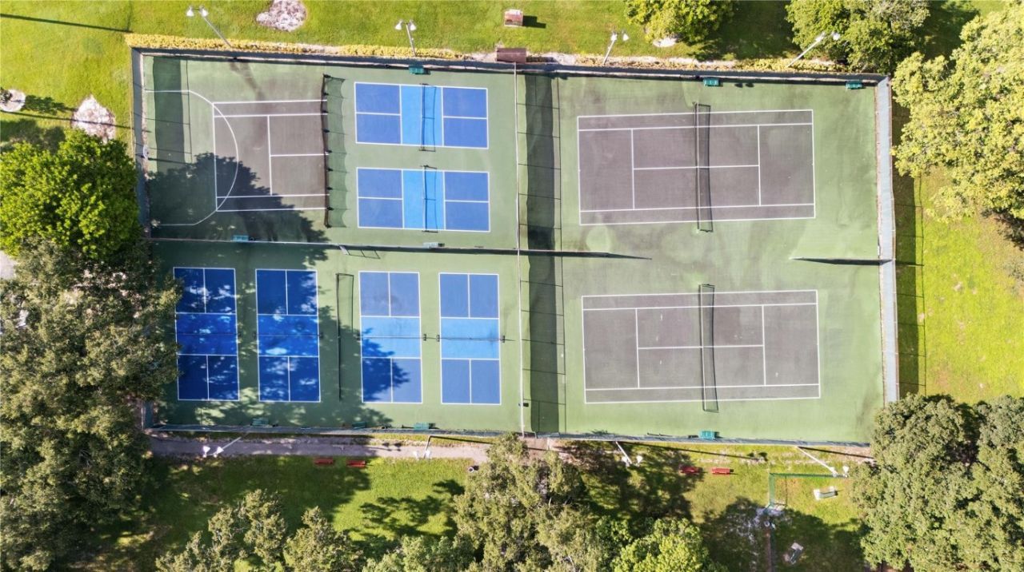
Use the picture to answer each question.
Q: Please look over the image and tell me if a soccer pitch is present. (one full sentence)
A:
No, the scene contains no soccer pitch.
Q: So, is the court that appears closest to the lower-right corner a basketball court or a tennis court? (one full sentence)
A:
I'd identify the court that appears closest to the lower-right corner as a tennis court.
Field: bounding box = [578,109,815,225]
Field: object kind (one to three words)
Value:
tennis court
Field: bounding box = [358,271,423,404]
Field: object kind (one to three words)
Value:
sports court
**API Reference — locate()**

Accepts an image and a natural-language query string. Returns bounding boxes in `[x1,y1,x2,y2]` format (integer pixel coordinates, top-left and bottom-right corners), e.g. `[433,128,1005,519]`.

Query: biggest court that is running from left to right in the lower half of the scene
[582,290,821,403]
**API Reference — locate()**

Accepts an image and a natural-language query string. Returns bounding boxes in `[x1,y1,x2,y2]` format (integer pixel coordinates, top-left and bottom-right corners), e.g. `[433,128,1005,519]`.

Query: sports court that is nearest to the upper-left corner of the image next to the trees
[146,90,327,225]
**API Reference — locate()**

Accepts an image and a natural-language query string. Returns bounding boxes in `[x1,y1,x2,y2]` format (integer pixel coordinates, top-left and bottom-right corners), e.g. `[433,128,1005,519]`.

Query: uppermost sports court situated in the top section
[355,82,489,149]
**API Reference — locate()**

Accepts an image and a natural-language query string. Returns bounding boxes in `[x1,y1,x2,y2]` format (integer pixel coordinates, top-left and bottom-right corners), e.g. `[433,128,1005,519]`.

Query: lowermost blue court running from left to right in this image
[357,167,491,232]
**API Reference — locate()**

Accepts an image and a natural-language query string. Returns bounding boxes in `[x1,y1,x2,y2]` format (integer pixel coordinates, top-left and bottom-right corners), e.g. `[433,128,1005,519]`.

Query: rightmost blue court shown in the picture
[439,273,501,405]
